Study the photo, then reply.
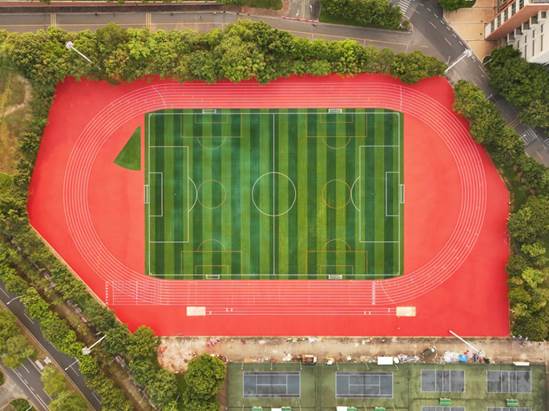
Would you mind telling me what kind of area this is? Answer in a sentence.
What you see here is a sports ground.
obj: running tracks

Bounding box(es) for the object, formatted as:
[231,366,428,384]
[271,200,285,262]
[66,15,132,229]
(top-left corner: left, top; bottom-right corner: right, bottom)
[28,64,510,337]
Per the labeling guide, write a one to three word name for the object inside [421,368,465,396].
sports court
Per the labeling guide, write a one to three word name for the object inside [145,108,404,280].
soccer field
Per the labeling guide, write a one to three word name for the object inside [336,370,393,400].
tennis court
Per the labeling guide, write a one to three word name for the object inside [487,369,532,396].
sports court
